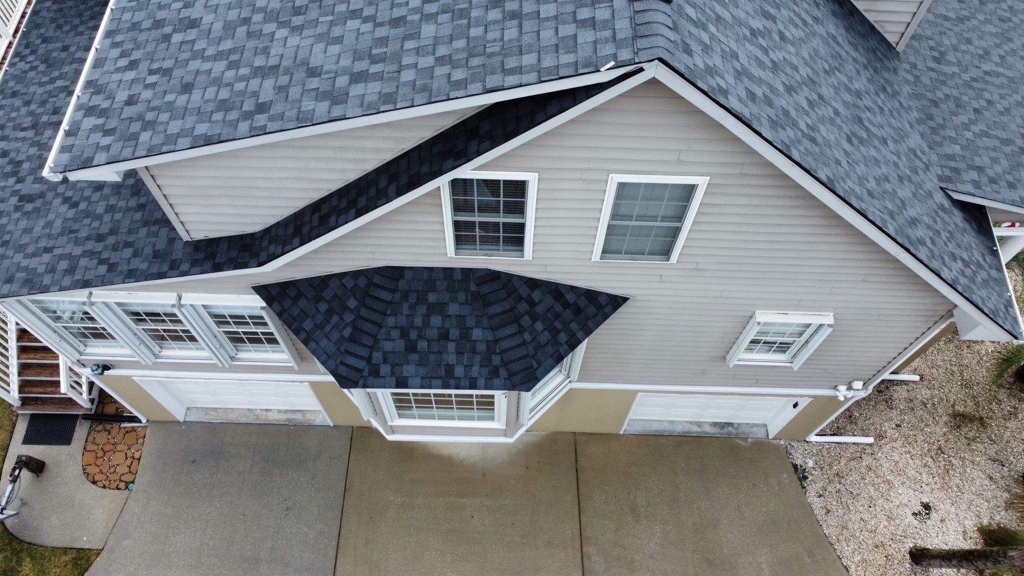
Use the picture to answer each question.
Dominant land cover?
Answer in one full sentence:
Most of the picture is covered by buildings.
